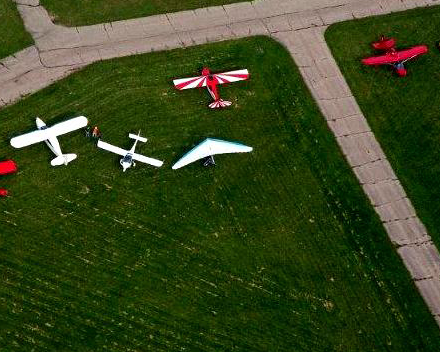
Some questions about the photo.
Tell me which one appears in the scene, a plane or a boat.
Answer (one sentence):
Looking from above, you can make out a plane.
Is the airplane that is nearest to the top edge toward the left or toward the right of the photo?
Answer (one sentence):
The airplane that is nearest to the top edge appears in the right half of the scene.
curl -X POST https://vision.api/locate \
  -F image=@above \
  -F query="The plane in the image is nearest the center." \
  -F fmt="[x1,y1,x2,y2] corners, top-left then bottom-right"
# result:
[172,140,255,171]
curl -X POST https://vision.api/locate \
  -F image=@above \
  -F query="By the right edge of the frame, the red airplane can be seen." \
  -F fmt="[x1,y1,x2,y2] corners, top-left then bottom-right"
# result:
[362,40,429,74]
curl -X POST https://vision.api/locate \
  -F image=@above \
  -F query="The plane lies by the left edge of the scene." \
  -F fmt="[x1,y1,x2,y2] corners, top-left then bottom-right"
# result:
[9,115,91,167]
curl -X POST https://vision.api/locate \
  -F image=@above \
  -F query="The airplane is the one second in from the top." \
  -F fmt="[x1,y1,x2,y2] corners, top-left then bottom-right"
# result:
[171,66,252,107]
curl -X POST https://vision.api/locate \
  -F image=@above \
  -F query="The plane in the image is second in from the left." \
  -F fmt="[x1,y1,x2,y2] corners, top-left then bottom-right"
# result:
[98,131,166,175]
